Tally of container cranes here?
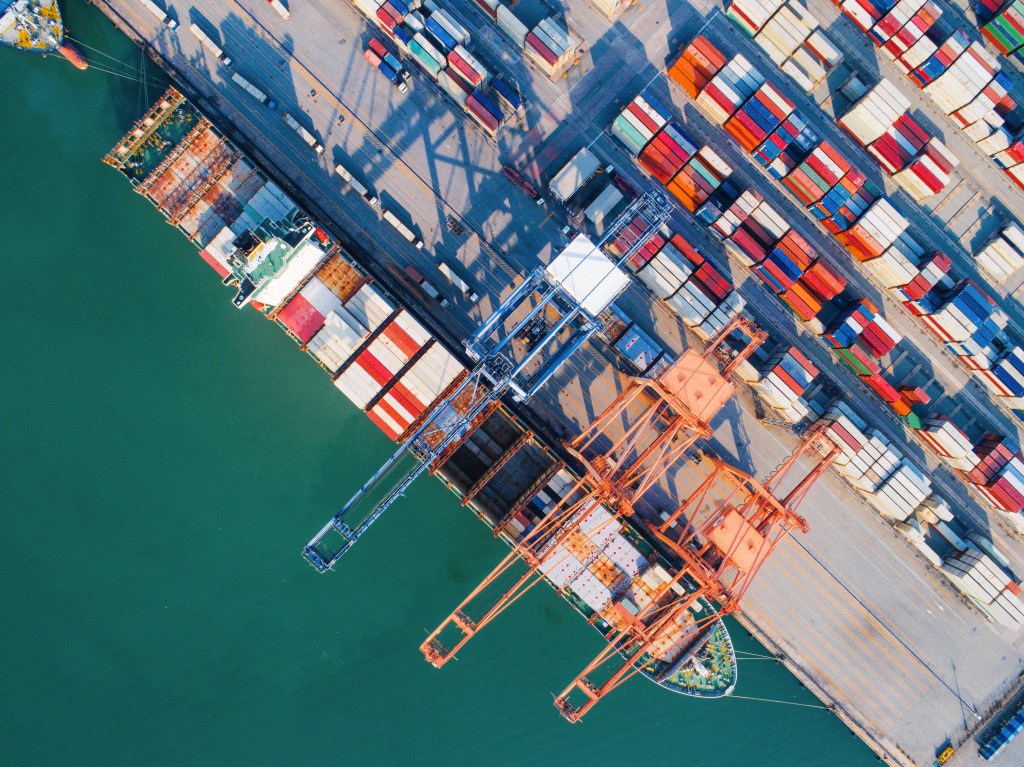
3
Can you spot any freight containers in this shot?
Yes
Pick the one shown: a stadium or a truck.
truck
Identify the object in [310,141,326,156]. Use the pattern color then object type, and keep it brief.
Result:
white vehicle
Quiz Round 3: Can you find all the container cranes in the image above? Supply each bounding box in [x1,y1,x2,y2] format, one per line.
[416,312,765,670]
[301,192,670,573]
[551,425,840,725]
